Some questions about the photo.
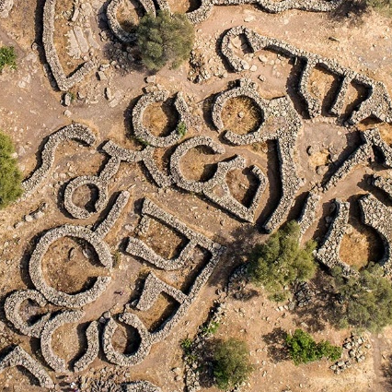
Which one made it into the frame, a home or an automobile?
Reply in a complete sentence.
This aerial view contains a home.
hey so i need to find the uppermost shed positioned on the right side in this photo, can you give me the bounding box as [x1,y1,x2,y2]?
[211,81,271,144]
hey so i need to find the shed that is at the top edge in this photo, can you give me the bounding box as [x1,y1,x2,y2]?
[105,0,156,45]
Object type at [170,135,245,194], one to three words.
shed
